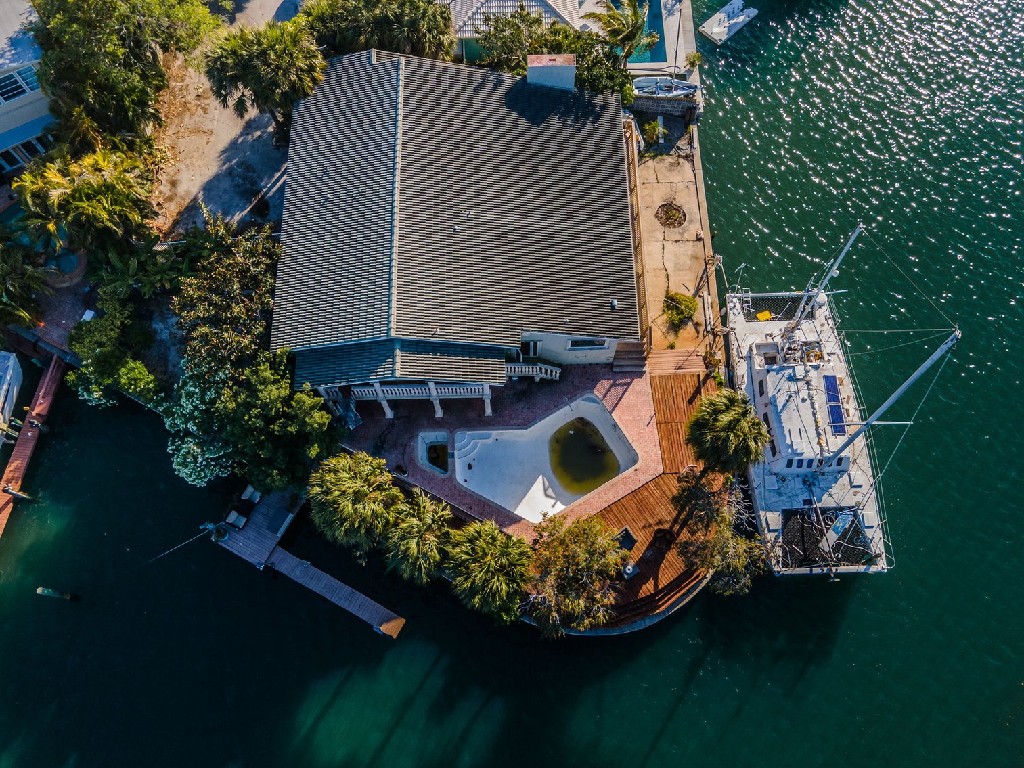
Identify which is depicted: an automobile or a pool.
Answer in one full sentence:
Of the two, only a pool appears.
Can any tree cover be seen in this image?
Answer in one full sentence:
Yes, tree cover shows up in the scene.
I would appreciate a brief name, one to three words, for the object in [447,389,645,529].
swimming pool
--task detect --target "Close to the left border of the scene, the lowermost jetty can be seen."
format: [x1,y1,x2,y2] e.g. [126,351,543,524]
[0,358,68,559]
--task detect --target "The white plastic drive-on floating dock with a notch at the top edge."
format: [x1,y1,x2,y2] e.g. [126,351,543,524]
[697,0,758,49]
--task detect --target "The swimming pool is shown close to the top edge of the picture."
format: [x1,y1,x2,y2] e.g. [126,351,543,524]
[613,0,671,65]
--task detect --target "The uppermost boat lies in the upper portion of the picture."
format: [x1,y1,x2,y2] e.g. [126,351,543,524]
[634,9,702,97]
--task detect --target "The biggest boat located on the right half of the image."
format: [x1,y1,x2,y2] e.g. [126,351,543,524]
[720,213,969,583]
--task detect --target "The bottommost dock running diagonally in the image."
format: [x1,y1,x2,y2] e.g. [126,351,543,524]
[215,483,409,641]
